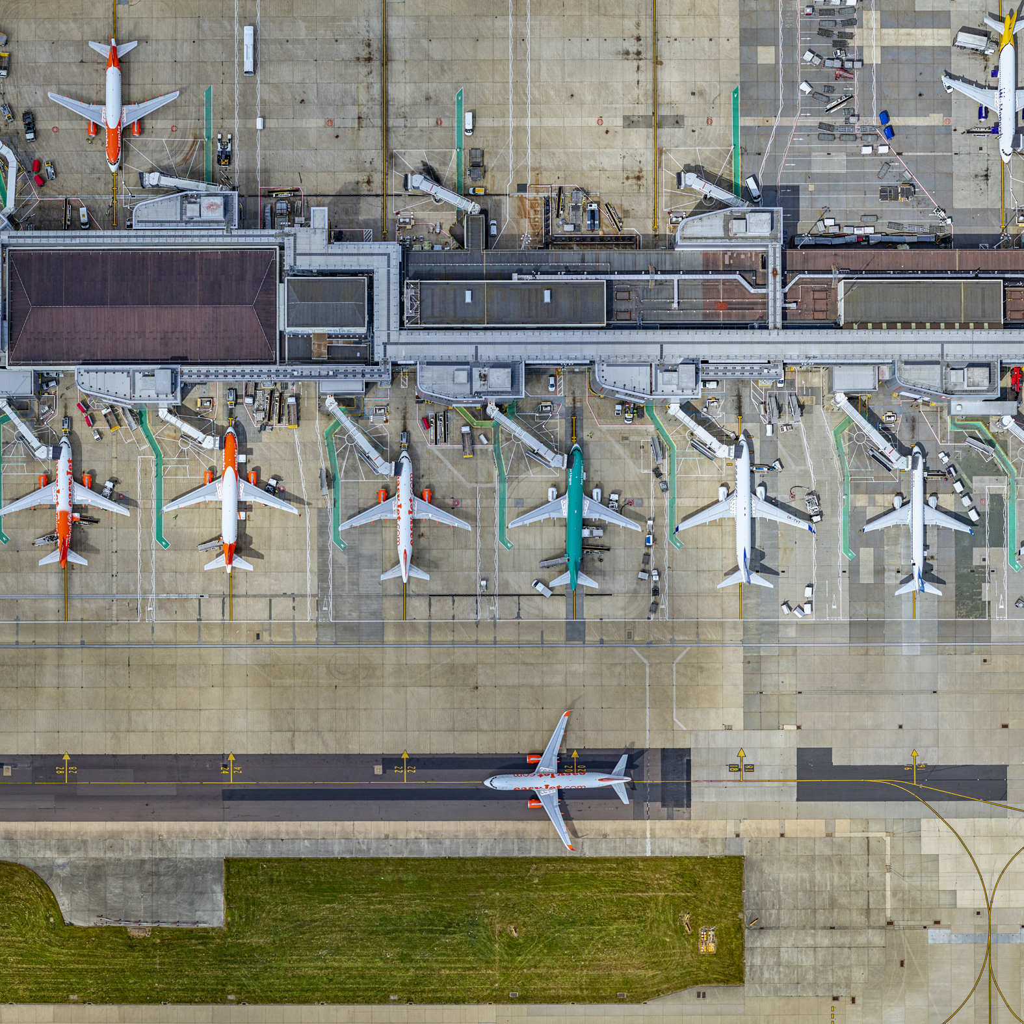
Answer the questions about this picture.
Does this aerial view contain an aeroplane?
Yes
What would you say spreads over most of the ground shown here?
paved ground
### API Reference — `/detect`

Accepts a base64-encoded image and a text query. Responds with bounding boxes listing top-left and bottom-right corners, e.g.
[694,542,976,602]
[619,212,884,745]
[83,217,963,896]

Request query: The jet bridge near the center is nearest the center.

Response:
[484,401,579,470]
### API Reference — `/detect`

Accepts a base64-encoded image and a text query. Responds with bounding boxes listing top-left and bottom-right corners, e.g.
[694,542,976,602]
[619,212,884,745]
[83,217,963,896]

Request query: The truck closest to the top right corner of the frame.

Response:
[953,31,999,52]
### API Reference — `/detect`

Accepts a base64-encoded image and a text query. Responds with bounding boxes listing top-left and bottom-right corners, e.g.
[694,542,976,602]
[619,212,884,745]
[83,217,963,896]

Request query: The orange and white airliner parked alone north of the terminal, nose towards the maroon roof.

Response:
[45,35,180,172]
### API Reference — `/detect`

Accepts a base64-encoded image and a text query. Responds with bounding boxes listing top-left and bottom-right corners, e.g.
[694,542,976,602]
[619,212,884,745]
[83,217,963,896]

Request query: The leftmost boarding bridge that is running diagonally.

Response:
[0,396,63,462]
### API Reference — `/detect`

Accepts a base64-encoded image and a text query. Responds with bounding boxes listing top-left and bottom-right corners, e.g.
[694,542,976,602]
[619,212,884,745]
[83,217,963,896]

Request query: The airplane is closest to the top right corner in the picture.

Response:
[941,12,1024,163]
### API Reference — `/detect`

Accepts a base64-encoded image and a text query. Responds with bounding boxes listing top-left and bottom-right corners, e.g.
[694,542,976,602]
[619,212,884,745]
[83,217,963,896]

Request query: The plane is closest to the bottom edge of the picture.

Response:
[484,714,632,856]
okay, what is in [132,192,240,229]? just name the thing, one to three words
building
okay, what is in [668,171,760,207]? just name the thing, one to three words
jet bridge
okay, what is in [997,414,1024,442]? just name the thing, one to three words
jet bridge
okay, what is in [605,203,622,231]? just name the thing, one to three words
work vehicle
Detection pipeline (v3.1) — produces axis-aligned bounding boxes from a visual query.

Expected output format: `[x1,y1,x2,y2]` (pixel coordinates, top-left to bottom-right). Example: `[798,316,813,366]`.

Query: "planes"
[484,714,632,856]
[863,470,976,596]
[0,436,131,569]
[674,433,811,588]
[163,426,298,574]
[509,444,644,591]
[941,12,1024,163]
[337,451,472,583]
[45,35,180,172]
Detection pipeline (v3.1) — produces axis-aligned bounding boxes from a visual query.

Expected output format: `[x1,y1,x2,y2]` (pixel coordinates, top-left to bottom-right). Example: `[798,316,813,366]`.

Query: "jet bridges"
[132,170,232,192]
[997,414,1024,442]
[397,173,481,214]
[831,392,925,471]
[668,171,760,207]
[0,396,63,462]
[323,394,408,477]
[484,401,579,470]
[0,140,19,222]
[155,405,230,452]
[666,402,746,460]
